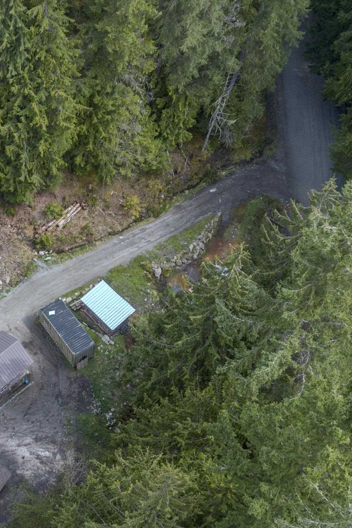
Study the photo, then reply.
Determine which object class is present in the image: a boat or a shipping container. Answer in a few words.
shipping container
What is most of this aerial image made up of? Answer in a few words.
trees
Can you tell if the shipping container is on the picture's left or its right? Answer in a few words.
left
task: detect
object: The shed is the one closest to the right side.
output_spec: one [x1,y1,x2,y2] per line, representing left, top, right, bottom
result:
[78,278,137,337]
